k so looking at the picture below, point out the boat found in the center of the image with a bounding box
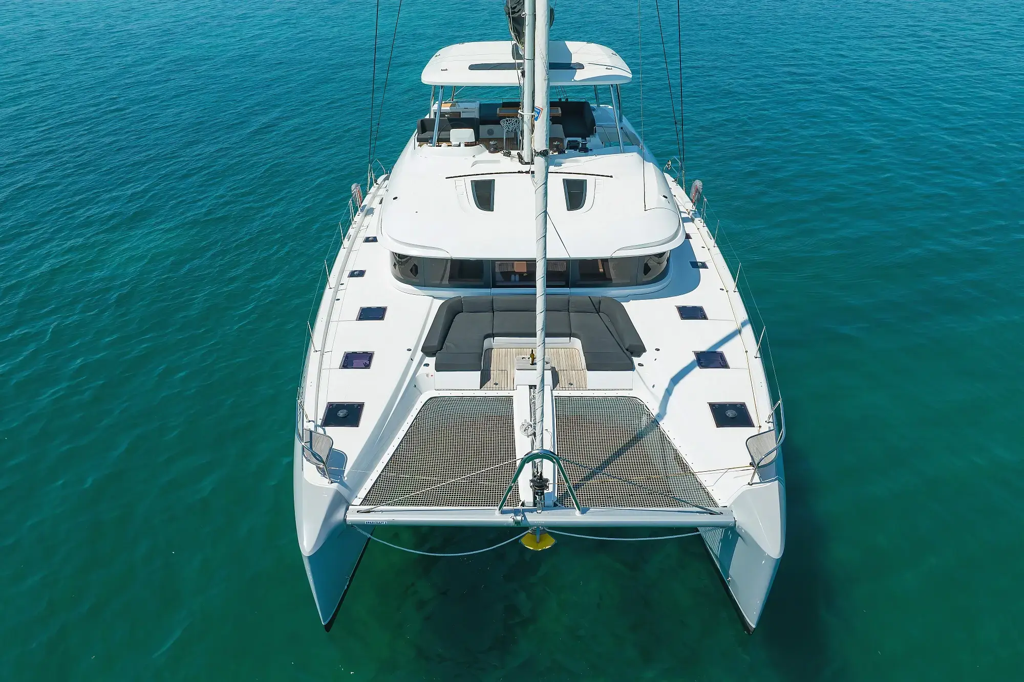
[292,0,781,632]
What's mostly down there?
water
